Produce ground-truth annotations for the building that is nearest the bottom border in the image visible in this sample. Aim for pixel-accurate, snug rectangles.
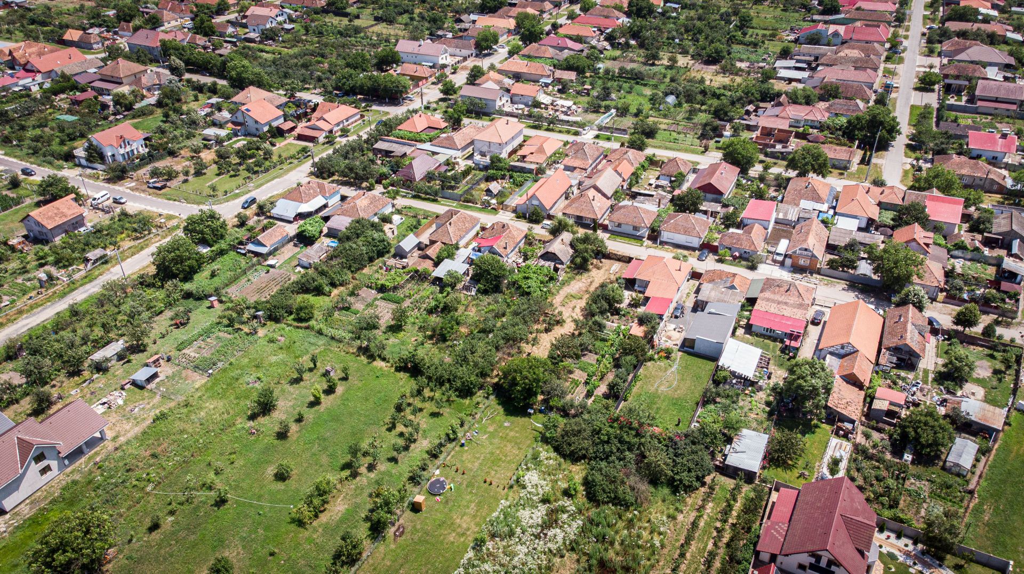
[752,482,879,574]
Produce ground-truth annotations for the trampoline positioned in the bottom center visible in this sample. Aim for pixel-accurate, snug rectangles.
[428,479,448,496]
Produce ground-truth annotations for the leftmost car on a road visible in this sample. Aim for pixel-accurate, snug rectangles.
[18,163,37,175]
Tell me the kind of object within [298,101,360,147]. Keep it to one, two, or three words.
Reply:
house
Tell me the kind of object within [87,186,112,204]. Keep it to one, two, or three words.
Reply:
vehicle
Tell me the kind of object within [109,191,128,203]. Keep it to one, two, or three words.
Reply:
vehicle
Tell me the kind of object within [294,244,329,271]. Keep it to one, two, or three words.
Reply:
shed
